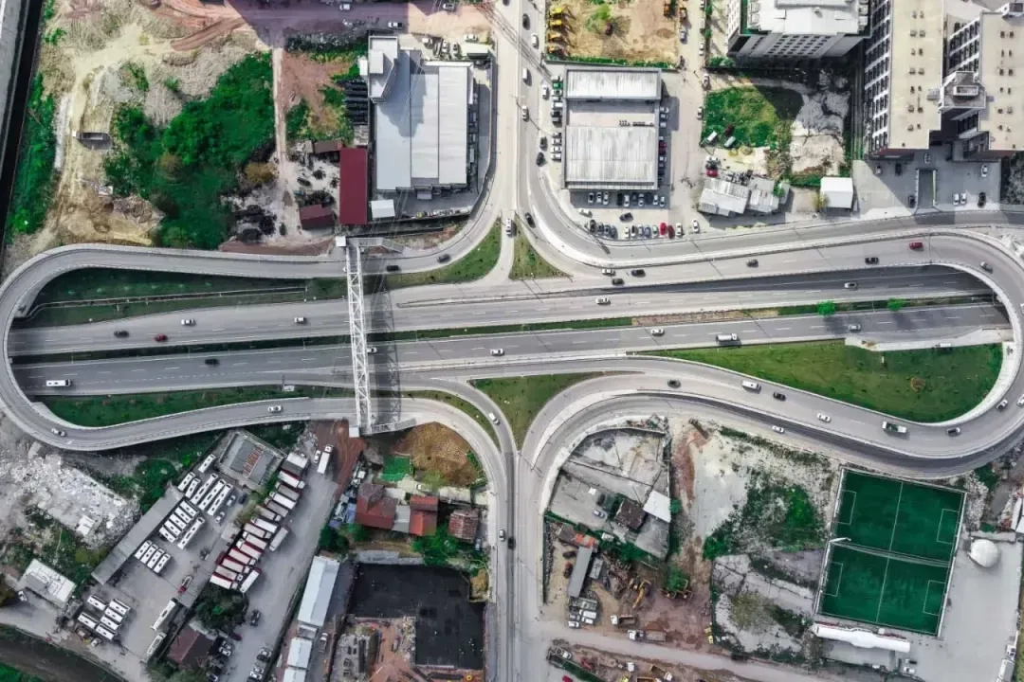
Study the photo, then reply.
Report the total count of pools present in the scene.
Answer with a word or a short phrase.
0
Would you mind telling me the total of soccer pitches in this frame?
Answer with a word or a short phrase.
2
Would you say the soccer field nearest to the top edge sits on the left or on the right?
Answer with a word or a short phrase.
right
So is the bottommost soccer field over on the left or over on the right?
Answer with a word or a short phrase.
right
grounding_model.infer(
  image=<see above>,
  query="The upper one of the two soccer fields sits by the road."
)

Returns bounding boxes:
[831,470,972,568]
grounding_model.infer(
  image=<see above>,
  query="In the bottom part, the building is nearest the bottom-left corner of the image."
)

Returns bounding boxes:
[21,555,86,603]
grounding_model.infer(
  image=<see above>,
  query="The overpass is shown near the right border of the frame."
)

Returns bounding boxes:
[621,227,1024,459]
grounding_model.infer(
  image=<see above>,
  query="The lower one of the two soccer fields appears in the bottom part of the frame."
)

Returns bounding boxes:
[817,542,957,640]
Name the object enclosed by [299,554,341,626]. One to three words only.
building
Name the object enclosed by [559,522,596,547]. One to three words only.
shed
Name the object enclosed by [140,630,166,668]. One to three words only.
bus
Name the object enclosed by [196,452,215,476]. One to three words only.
vehicle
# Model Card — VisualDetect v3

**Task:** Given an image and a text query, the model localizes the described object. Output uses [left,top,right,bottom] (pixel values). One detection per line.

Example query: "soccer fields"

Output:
[831,470,972,568]
[817,542,957,640]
